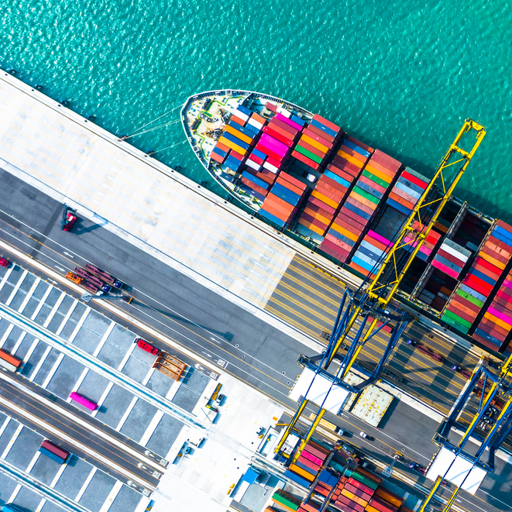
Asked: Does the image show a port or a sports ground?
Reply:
port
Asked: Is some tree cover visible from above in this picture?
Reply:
No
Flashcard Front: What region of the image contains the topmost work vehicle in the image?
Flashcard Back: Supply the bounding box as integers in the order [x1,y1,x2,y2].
[58,202,80,233]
